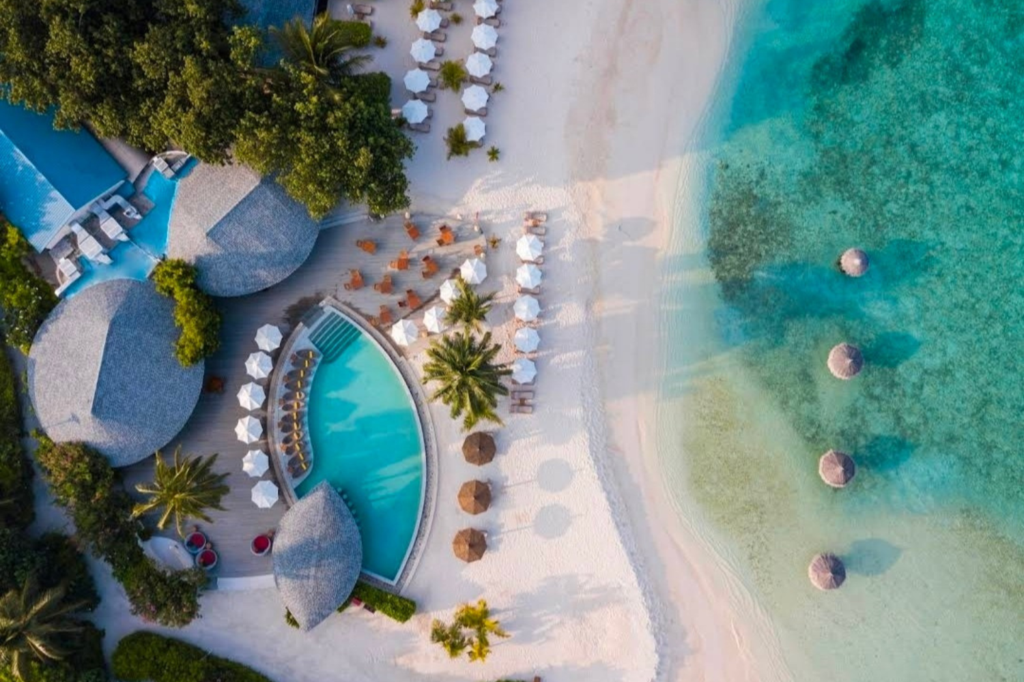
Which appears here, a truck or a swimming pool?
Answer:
swimming pool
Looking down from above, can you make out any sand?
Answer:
Yes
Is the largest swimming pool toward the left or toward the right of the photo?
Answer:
left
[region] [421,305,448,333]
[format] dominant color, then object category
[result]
white umbrella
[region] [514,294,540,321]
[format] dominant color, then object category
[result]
white umbrella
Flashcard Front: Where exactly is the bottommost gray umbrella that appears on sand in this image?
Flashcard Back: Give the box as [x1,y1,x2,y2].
[808,553,843,589]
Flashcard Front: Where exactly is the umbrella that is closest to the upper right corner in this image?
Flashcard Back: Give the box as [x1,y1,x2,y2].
[837,247,867,277]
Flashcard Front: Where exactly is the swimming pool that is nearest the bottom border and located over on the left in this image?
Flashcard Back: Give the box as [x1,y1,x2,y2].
[267,297,439,589]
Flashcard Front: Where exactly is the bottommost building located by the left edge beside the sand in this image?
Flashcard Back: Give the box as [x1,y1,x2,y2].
[27,279,205,468]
